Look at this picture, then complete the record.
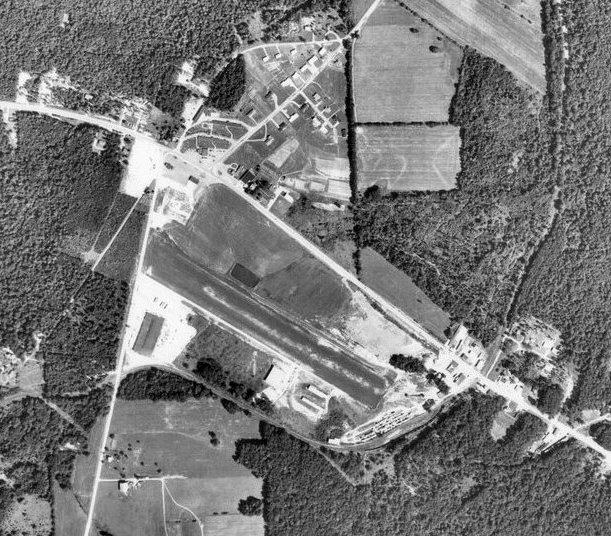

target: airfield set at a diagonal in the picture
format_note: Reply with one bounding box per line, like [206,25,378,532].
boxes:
[144,230,386,406]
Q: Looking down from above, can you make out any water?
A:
No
